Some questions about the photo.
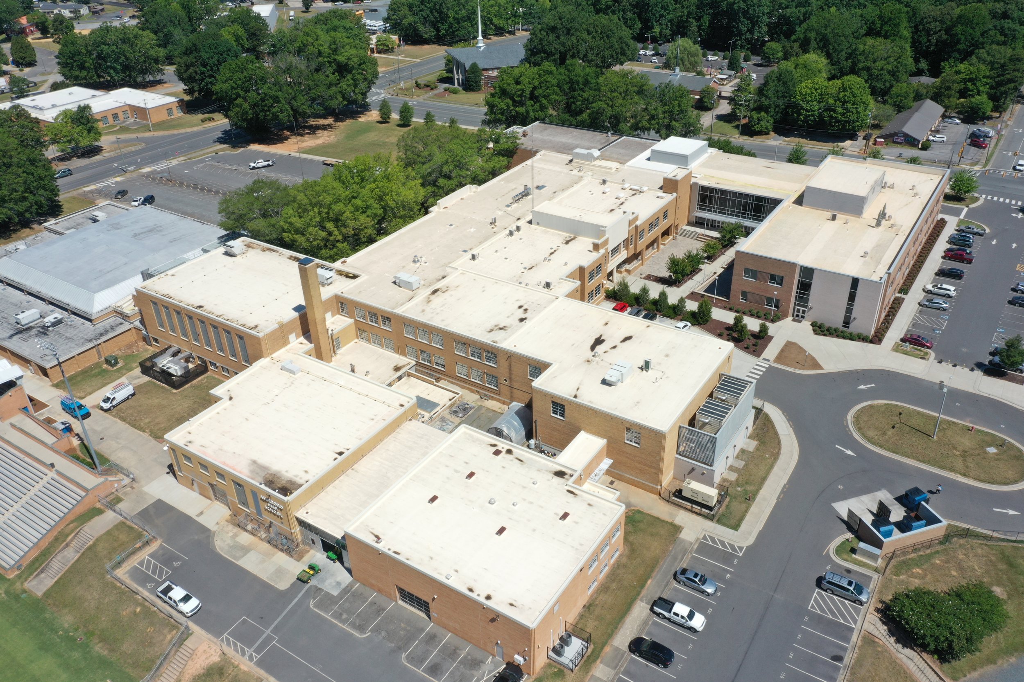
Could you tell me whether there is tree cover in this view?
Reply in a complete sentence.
Yes, the picture does contain tree cover.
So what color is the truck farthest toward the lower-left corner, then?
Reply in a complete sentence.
From above, the truck farthest toward the lower-left corner appears white.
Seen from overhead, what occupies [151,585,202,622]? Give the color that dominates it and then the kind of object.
white truck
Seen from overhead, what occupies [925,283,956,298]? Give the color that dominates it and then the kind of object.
white car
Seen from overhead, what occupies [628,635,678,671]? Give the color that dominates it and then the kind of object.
black car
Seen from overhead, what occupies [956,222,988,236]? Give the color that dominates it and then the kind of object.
gray vehicle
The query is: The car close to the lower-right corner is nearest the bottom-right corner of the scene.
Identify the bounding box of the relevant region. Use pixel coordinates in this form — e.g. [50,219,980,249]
[821,574,872,609]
